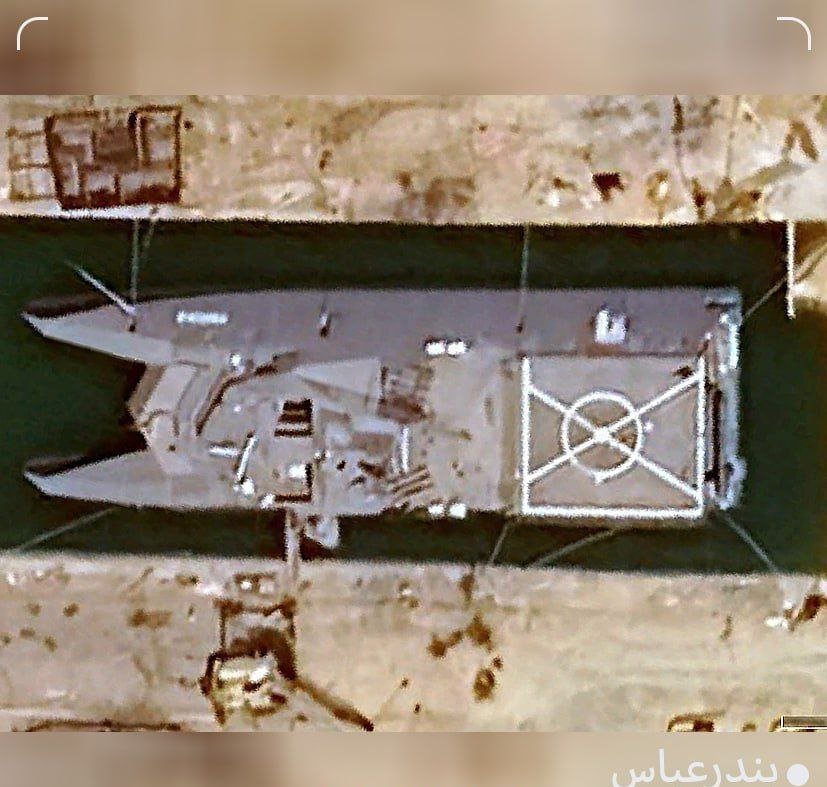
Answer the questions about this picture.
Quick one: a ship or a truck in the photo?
ship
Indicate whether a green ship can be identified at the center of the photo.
No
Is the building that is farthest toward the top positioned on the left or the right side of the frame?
left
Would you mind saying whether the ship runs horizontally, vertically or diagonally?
horizontally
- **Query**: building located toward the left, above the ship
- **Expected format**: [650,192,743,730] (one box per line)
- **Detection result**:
[43,102,182,215]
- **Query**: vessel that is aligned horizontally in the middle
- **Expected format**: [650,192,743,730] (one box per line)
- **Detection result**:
[23,264,749,552]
